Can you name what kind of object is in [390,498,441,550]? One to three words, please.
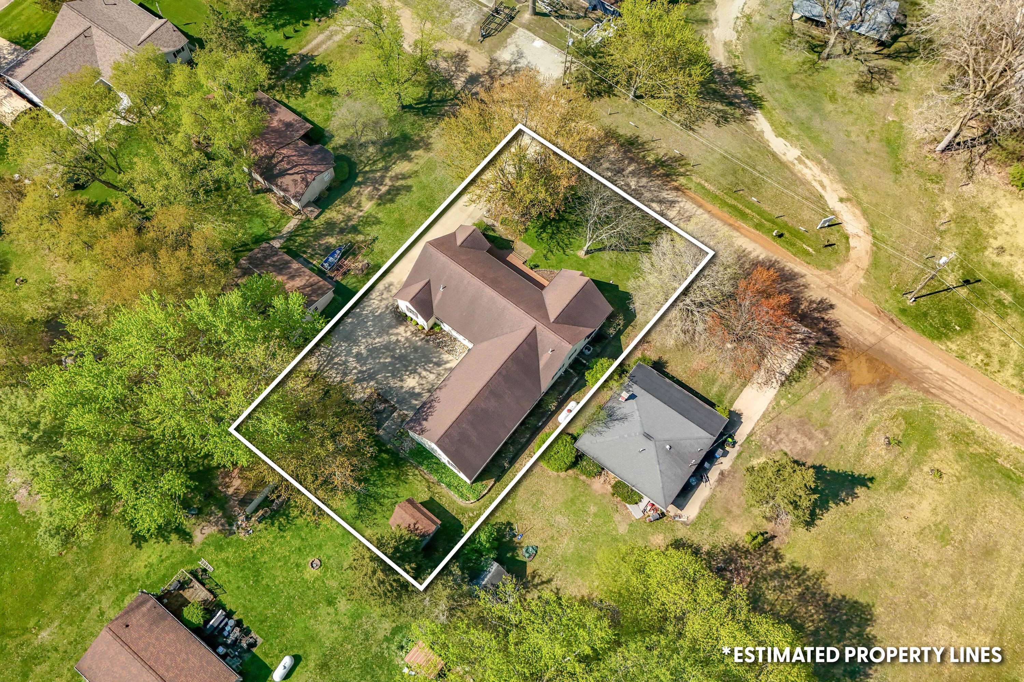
shed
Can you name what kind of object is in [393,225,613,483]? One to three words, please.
house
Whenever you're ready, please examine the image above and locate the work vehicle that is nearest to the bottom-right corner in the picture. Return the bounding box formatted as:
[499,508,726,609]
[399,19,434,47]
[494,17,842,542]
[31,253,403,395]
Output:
[723,438,736,454]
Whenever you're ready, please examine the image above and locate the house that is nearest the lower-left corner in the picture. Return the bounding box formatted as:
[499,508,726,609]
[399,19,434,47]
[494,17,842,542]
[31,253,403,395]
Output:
[76,592,247,682]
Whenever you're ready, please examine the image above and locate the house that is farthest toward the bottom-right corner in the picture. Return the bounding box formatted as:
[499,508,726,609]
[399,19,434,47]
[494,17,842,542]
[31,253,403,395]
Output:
[574,358,730,511]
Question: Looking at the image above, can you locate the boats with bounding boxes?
[314,238,345,271]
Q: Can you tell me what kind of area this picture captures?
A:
residential area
